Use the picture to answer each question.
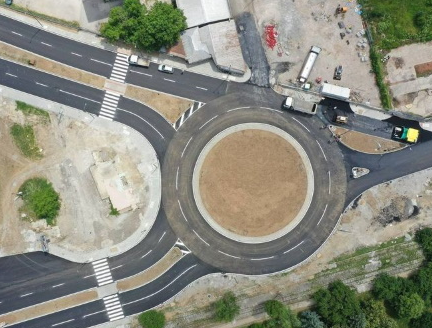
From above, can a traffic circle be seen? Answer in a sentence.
Yes, there is a traffic circle in the image.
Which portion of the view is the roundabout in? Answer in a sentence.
The roundabout appears toward the center of the photo.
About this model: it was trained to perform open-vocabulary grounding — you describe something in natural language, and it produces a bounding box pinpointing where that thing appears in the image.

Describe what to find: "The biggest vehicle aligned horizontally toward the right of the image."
[281,94,319,113]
